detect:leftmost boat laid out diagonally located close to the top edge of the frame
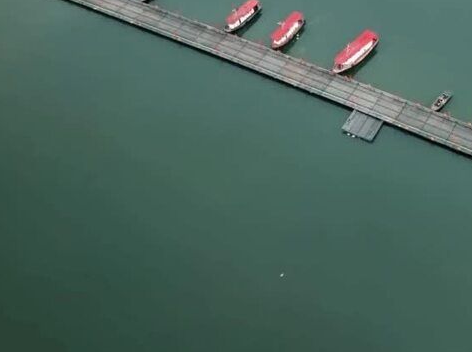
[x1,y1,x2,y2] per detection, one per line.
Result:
[226,0,265,36]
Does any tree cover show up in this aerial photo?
No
